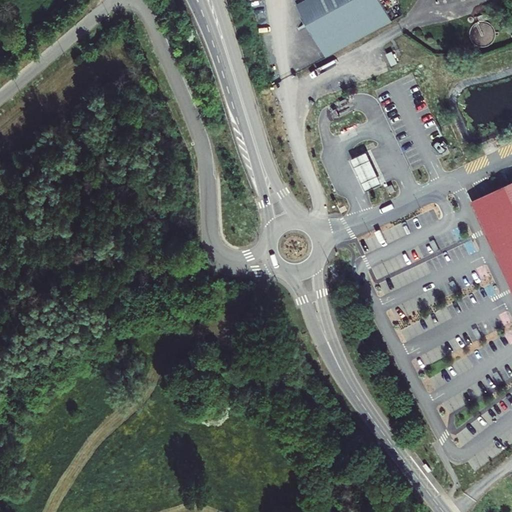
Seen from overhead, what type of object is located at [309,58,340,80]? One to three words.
truck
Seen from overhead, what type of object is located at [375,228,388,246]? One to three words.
vehicle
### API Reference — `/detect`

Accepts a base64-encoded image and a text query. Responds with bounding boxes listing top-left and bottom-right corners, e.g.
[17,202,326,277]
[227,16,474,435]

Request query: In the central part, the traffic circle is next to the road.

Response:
[256,194,358,300]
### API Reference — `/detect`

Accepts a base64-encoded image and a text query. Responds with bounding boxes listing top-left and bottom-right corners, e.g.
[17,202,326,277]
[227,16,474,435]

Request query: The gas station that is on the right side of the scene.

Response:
[350,153,380,191]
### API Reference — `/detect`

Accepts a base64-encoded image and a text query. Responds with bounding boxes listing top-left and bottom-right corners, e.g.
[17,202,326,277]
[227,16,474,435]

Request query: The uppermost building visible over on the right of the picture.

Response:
[292,0,391,58]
